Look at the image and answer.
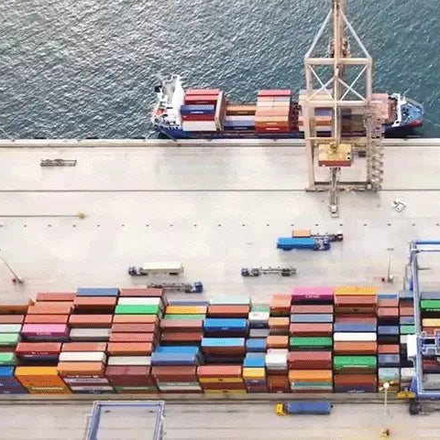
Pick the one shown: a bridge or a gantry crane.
gantry crane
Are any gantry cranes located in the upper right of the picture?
Yes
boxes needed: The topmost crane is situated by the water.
[292,0,387,218]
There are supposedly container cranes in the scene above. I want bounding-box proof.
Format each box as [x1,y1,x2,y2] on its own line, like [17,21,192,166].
[404,241,440,400]
[77,393,165,440]
[292,0,387,218]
